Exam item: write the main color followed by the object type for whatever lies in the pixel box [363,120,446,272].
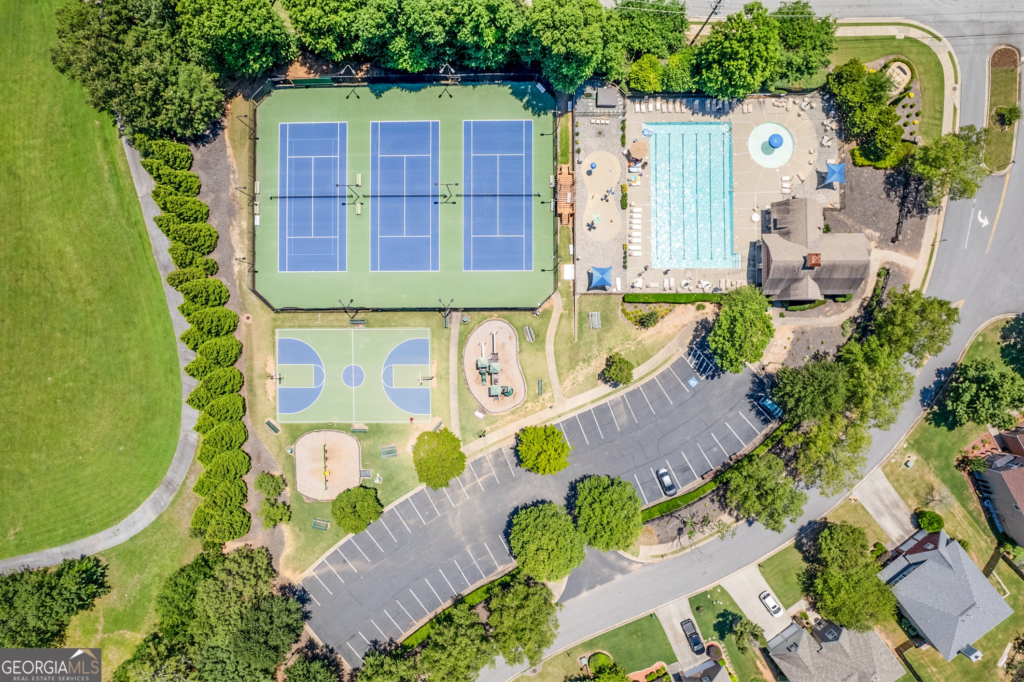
blue tennis court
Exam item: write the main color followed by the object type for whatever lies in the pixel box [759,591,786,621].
white car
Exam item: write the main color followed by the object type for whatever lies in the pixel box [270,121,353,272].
blue tennis court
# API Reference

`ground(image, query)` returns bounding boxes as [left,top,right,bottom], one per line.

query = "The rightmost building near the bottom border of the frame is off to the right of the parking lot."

[882,526,1014,663]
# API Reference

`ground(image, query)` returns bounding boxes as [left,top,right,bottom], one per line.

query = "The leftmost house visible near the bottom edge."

[679,653,733,682]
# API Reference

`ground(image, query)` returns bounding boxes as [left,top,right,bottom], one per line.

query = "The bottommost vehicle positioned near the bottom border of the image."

[679,619,707,658]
